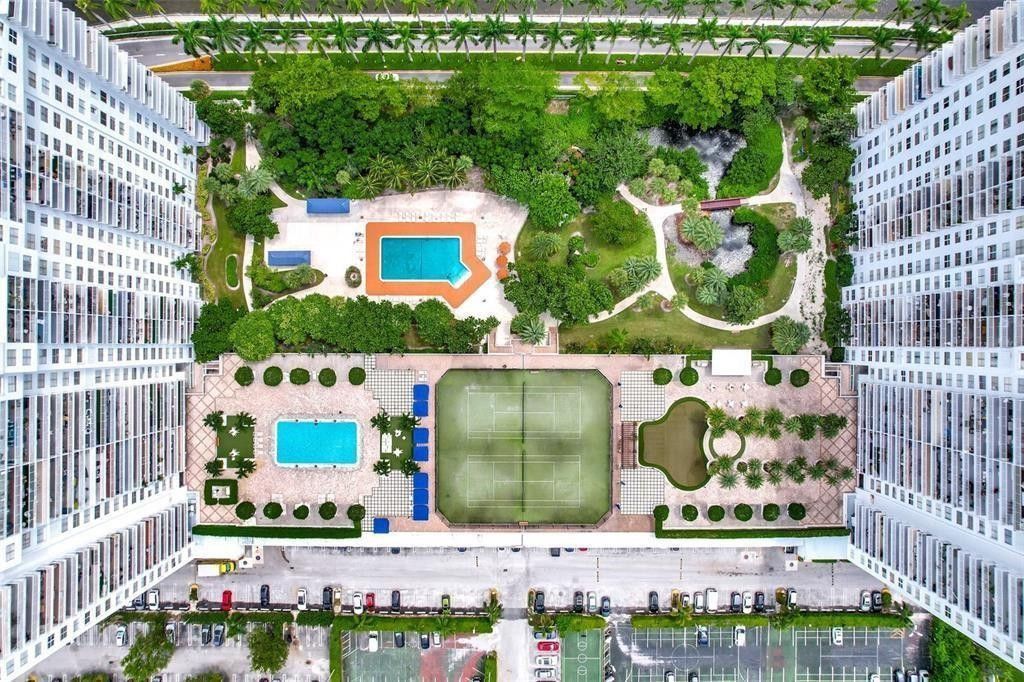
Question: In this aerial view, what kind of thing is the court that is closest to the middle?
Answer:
tennis court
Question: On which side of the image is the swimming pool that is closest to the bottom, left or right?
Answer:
left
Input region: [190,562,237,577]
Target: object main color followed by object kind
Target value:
white vehicle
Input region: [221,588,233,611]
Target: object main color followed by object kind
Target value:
red vehicle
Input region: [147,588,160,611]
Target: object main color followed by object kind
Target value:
white vehicle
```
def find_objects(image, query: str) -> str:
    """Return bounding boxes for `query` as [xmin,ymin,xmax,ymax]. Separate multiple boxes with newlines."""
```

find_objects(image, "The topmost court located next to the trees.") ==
[434,369,614,529]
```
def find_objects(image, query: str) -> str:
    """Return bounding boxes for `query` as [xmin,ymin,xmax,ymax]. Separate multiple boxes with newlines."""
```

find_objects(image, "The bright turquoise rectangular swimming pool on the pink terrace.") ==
[268,413,365,473]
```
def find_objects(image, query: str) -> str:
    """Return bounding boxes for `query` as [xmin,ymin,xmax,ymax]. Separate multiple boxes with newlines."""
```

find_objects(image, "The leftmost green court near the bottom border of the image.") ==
[561,627,604,682]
